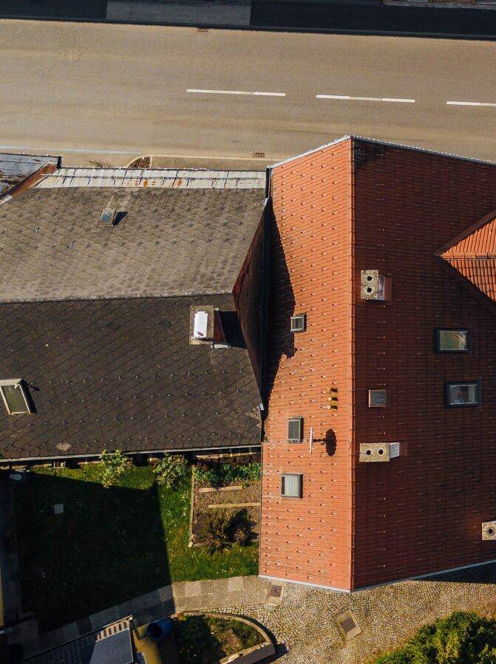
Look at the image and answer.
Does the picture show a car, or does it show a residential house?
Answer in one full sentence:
The one in the frame is a residential house.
